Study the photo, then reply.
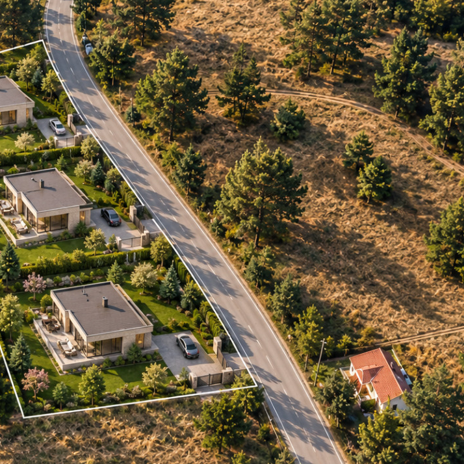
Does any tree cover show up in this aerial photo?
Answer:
Yes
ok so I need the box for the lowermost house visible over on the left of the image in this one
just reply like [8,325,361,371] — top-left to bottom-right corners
[27,281,163,379]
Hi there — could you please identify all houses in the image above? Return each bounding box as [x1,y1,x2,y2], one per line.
[27,281,163,379]
[0,77,38,137]
[310,346,416,419]
[0,169,96,251]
